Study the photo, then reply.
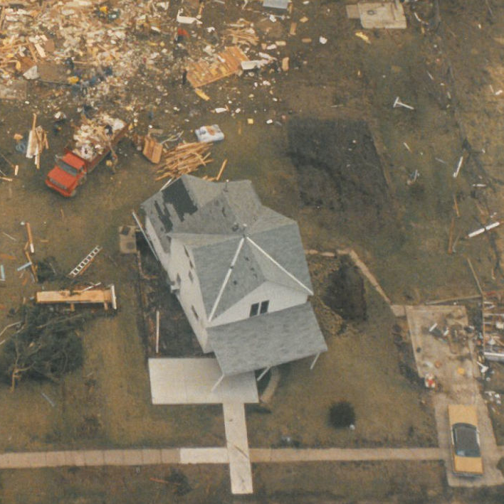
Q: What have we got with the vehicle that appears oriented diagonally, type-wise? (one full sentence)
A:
The vehicle that appears oriented diagonally in the image is a truck.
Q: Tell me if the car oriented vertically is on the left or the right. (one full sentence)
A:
The car oriented vertically sits on the right side.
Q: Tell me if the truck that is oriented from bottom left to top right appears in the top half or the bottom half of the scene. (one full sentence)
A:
The truck that is oriented from bottom left to top right is in the top half of the image.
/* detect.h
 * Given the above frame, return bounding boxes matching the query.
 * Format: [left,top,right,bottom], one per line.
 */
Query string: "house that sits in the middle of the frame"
[137,175,327,394]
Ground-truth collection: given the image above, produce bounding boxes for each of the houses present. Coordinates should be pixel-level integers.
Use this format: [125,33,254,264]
[137,175,327,394]
[479,292,504,361]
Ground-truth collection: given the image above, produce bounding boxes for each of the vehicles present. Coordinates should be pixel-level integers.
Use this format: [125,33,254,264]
[446,404,482,483]
[46,111,139,203]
